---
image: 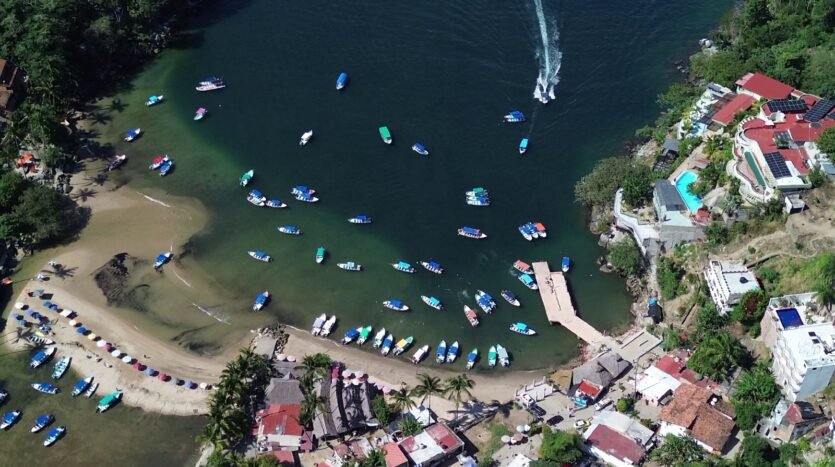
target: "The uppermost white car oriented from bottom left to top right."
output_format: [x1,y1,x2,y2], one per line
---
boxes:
[592,399,609,412]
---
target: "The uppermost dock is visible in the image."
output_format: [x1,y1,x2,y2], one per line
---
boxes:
[532,262,618,355]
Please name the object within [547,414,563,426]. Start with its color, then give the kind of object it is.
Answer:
black vehicle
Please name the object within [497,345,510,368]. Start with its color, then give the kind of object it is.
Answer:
white boat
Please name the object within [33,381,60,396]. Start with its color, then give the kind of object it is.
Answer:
blue boat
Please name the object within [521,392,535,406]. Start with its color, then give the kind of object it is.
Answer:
white vehicle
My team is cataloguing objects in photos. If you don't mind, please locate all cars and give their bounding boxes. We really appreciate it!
[521,392,535,406]
[592,399,609,412]
[572,419,589,431]
[528,404,547,417]
[547,414,563,426]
